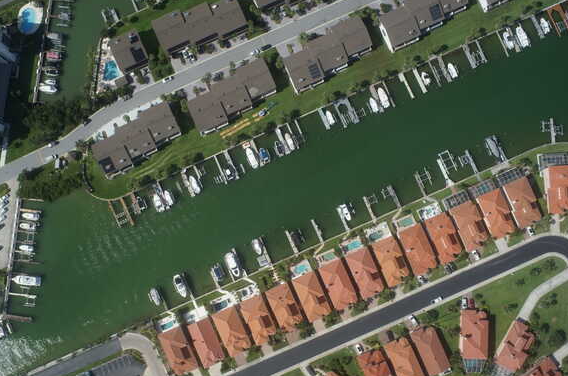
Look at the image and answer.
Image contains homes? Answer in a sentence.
Yes, I can see a home in this picture.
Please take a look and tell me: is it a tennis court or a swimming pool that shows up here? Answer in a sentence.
Looking from above, you can make out a swimming pool.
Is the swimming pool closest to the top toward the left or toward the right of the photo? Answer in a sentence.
The swimming pool closest to the top appears in the left half of the scene.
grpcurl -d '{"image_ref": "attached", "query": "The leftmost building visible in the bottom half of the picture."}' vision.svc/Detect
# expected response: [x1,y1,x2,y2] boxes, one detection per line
[159,326,196,375]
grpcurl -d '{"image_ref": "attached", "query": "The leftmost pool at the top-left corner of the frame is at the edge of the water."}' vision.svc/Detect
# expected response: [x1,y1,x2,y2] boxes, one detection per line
[18,2,43,35]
